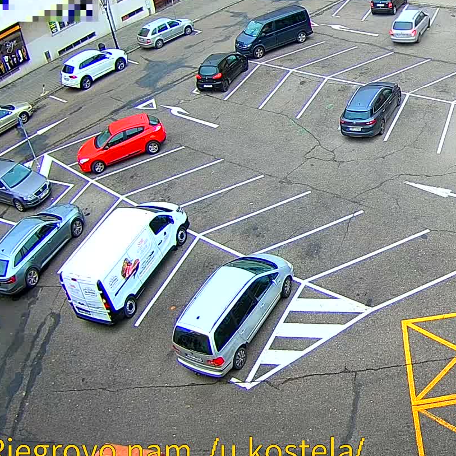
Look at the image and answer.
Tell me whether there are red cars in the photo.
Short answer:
Yes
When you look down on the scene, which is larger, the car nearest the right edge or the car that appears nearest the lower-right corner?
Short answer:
the car that appears nearest the lower-right corner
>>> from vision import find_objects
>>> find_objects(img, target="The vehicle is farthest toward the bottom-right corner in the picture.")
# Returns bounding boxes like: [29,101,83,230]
[167,255,291,381]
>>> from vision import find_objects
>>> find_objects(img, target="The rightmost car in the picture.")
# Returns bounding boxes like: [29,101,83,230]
[389,11,430,42]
